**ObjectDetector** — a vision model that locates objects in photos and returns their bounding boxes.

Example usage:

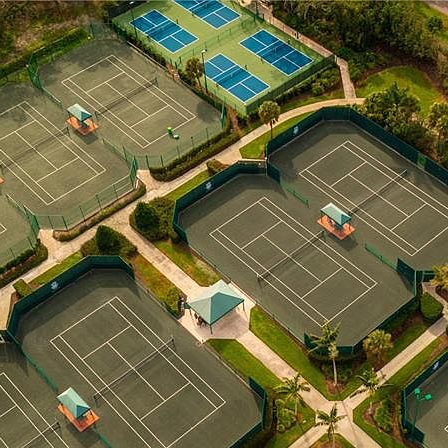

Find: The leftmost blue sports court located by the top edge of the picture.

[129,8,199,52]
